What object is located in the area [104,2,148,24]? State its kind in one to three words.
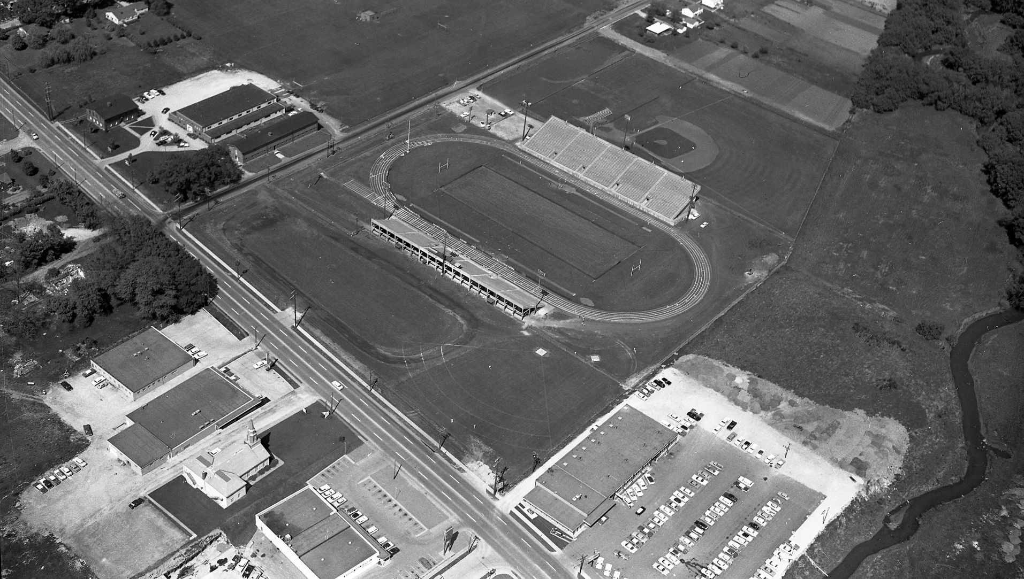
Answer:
house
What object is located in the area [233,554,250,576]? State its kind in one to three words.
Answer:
vehicle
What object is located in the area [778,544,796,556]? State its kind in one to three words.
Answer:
vehicle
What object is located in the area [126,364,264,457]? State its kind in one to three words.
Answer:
building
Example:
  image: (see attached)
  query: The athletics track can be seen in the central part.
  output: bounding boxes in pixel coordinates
[370,134,712,324]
